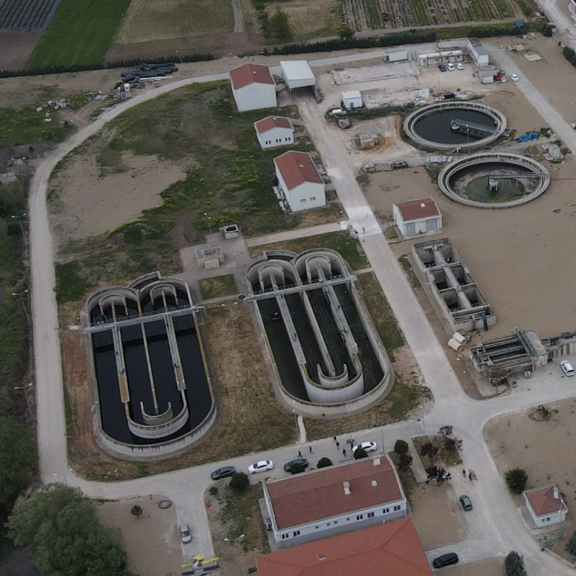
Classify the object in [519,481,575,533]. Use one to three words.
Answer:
building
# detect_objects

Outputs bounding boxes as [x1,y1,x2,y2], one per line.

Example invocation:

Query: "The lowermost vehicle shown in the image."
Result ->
[431,551,460,567]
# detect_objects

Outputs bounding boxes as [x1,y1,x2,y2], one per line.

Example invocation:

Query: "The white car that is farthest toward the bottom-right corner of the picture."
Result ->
[563,361,576,376]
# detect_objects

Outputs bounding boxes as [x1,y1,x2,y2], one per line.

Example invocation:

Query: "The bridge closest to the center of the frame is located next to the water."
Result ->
[241,272,359,306]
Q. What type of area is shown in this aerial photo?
industrial area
